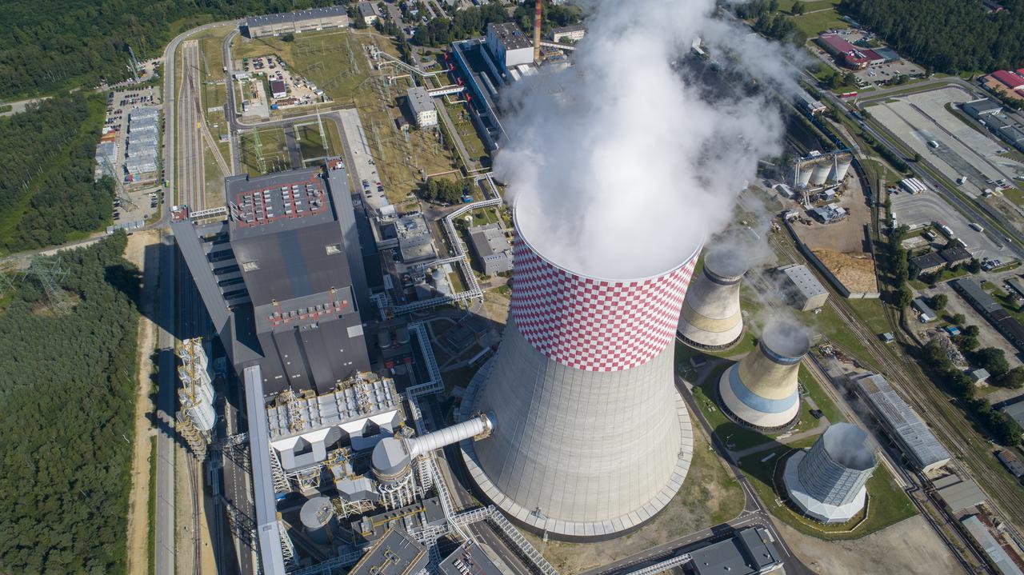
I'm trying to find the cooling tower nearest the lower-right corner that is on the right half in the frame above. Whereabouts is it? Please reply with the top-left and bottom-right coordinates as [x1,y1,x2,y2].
[783,421,879,522]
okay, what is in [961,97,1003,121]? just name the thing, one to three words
building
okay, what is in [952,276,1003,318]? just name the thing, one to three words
shed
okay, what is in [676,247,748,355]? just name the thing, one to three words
cooling tower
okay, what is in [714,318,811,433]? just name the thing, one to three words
cooling tower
